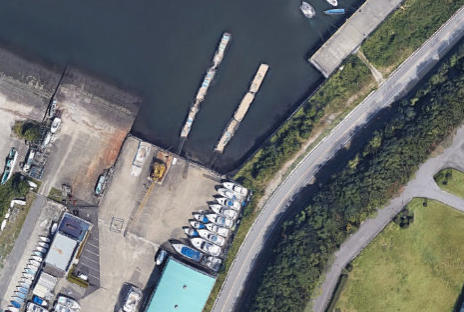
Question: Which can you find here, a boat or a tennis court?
boat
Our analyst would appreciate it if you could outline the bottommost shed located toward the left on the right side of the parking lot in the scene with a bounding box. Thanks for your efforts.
[145,256,217,312]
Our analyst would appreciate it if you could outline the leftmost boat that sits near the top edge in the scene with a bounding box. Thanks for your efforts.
[302,2,316,20]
